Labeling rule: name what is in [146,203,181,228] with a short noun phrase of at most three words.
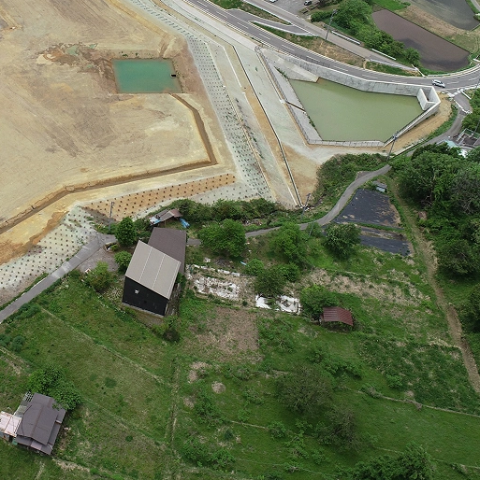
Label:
shed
